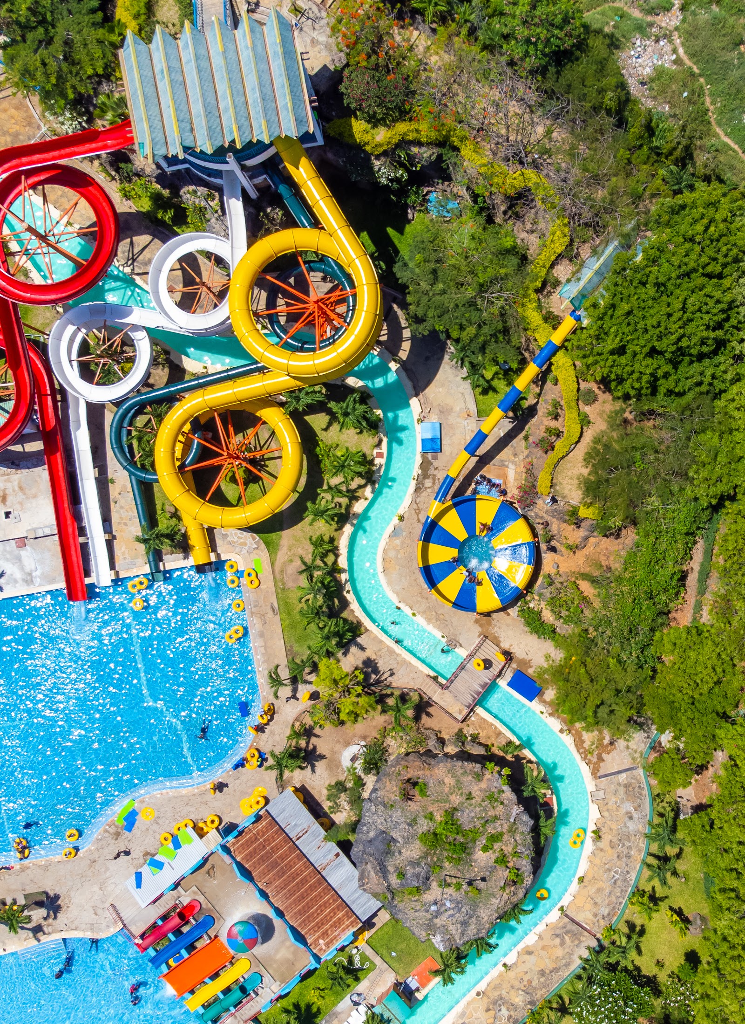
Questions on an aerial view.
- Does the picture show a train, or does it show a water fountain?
water fountain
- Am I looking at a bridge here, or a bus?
bridge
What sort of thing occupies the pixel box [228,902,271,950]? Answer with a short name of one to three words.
fountain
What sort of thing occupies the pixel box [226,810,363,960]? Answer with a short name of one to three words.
building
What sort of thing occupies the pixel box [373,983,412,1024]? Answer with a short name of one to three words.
shed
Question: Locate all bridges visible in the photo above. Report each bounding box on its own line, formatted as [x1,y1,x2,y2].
[416,636,512,725]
